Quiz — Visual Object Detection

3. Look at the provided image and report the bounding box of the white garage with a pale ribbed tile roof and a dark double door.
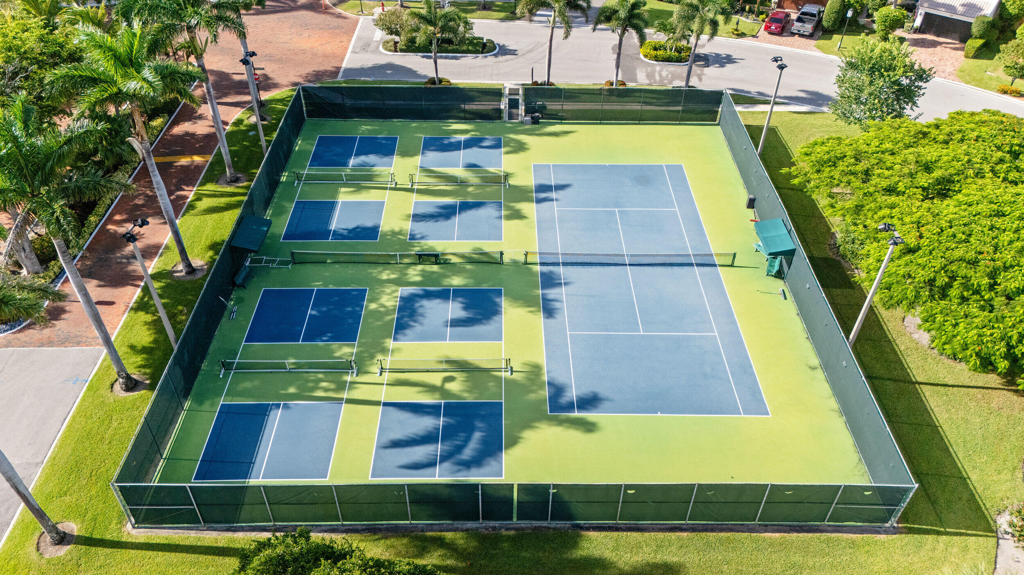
[917,0,1004,42]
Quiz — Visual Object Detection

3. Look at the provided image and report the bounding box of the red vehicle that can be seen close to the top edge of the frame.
[765,10,791,32]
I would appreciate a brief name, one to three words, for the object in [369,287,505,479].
sports court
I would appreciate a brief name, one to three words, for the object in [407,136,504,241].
sports court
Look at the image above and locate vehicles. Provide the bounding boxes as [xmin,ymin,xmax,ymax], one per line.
[793,5,826,35]
[765,10,791,32]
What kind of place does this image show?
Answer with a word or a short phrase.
sports ground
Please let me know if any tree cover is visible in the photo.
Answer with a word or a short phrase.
Yes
